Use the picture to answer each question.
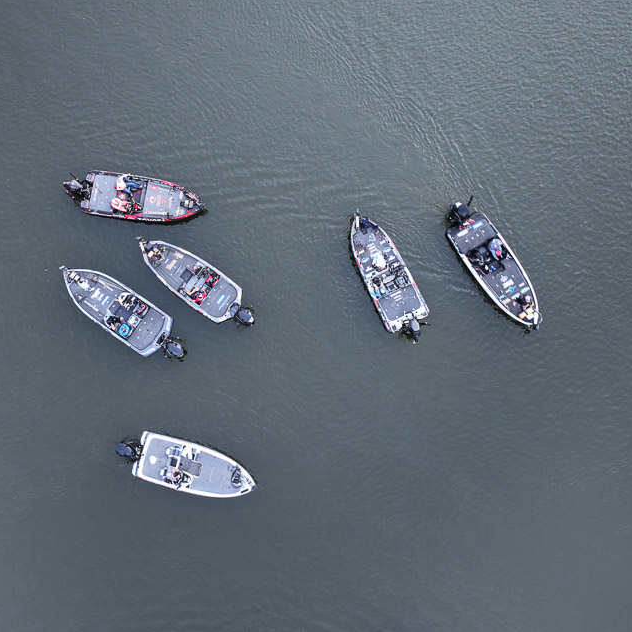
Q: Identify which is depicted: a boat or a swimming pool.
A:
boat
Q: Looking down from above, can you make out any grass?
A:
No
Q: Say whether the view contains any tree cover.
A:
No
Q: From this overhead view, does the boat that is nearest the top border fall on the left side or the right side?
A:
left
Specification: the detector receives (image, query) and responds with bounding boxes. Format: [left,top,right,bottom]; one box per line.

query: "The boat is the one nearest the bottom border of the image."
[115,429,258,496]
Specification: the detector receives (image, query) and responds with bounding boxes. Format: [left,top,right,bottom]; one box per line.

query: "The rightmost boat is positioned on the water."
[445,194,544,332]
